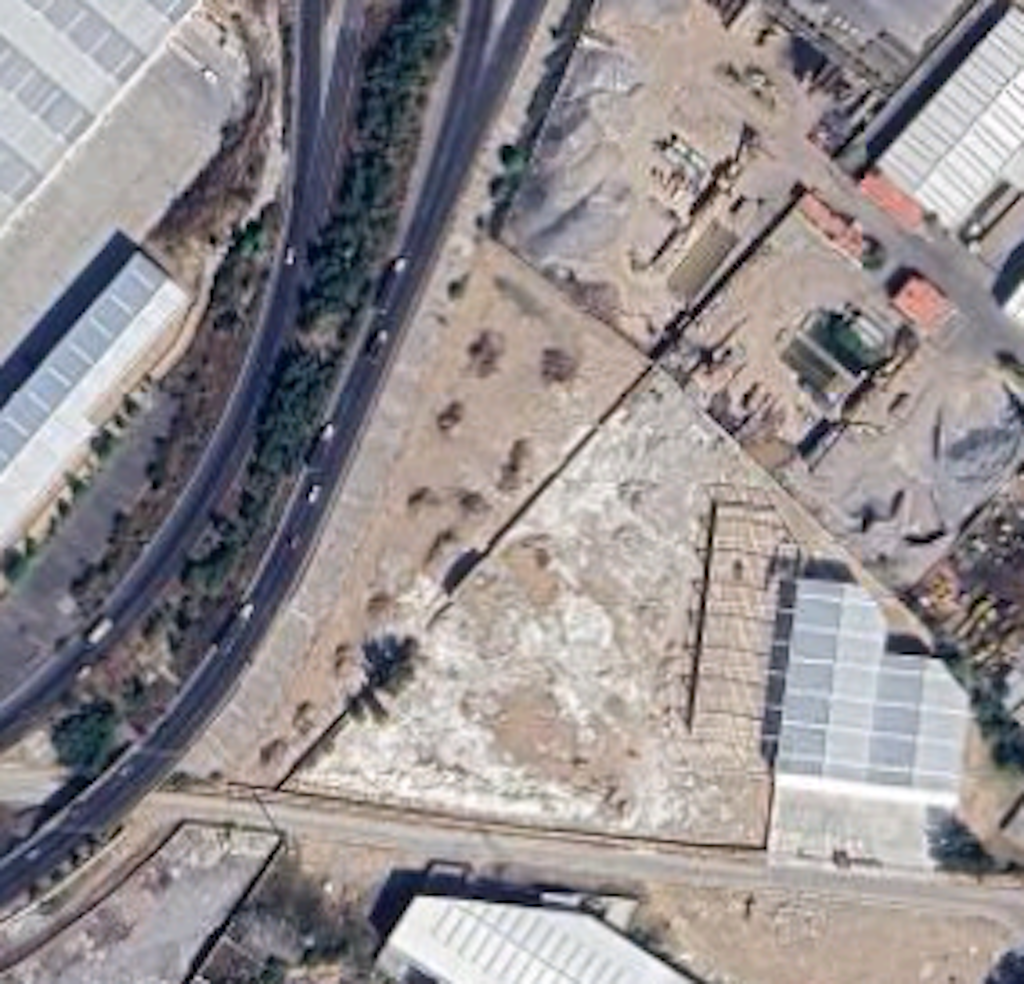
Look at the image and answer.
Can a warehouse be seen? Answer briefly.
Yes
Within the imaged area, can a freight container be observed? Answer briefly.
Yes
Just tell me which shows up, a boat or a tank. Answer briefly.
tank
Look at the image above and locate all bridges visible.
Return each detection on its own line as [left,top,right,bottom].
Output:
[0,741,188,900]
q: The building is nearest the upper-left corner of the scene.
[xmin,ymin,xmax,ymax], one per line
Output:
[0,0,202,233]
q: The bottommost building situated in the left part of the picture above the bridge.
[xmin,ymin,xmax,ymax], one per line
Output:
[0,252,189,524]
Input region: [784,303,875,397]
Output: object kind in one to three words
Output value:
shed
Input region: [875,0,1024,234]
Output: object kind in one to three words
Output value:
warehouse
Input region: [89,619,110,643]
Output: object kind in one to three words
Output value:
truck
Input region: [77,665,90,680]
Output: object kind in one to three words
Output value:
vehicle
